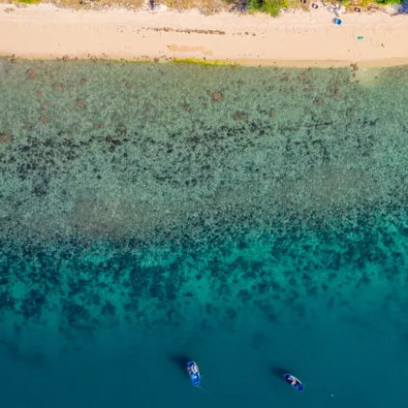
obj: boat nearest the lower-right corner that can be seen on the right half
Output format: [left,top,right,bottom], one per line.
[283,373,303,392]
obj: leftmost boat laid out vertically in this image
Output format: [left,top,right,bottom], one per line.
[186,360,200,389]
